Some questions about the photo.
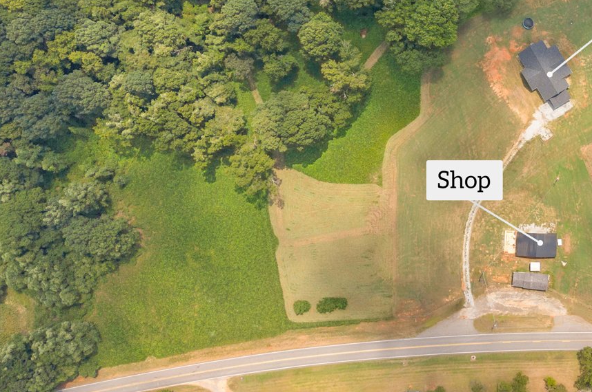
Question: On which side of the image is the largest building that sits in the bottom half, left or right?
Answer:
right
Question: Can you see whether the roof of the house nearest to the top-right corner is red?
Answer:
No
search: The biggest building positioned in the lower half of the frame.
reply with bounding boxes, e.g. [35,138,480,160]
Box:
[515,233,556,260]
